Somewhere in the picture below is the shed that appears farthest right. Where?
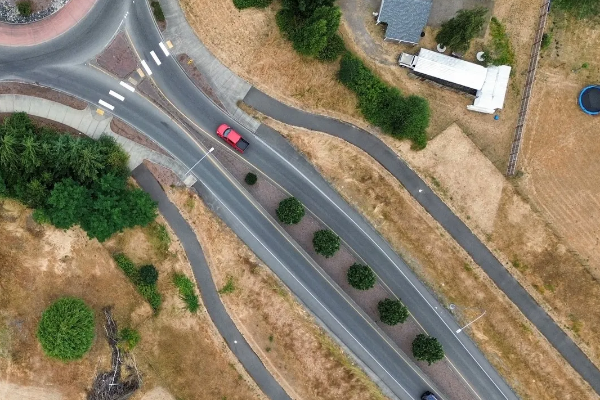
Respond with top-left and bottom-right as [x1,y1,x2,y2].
[468,66,511,111]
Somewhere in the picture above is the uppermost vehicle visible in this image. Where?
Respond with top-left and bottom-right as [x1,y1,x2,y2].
[398,53,418,69]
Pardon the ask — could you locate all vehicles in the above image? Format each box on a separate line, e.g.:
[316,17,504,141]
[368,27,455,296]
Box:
[217,124,250,152]
[398,53,418,69]
[420,389,439,400]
